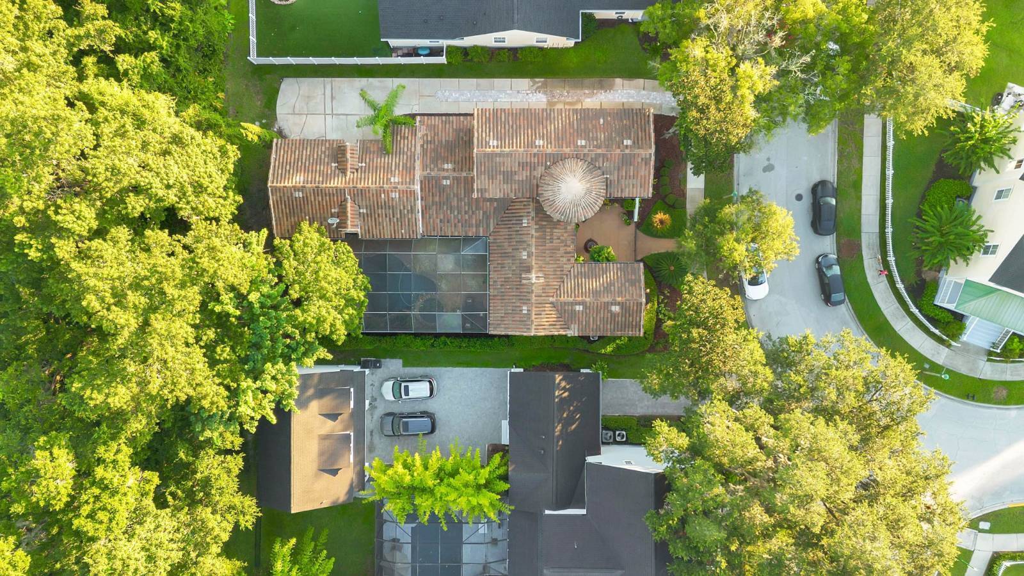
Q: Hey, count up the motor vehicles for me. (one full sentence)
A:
There are 5 motor vehicles in the image.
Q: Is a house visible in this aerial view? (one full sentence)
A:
Yes, there is a house in the image.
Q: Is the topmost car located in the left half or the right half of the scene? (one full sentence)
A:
It is on the right.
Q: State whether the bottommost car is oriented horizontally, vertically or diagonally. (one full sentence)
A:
From this overhead view, the bottommost car appears to run horizontally.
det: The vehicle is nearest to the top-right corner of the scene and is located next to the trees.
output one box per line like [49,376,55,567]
[808,181,838,236]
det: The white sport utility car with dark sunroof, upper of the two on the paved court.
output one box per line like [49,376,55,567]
[383,375,437,402]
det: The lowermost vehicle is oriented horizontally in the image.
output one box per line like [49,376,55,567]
[382,410,437,437]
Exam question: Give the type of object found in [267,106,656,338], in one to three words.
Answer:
house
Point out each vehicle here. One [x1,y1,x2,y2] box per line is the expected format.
[383,375,437,402]
[743,246,771,300]
[808,181,838,236]
[382,410,437,437]
[813,254,842,306]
